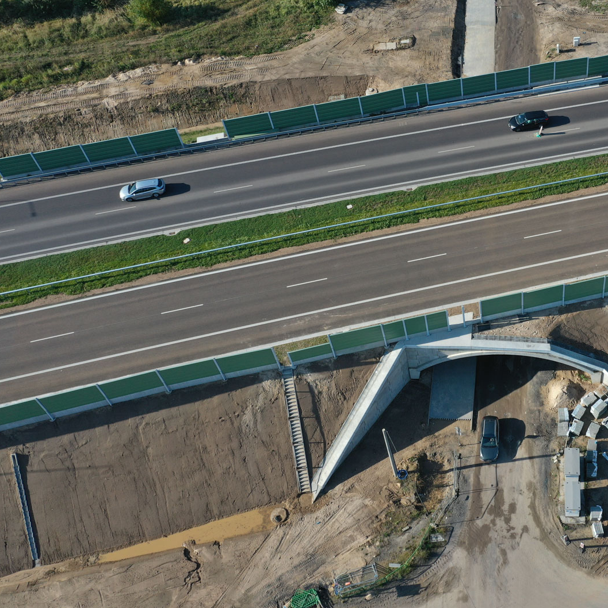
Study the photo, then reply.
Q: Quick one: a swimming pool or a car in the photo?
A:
car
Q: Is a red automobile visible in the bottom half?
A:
No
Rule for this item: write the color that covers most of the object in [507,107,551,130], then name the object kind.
black car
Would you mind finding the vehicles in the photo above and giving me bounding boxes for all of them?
[476,418,502,467]
[119,176,165,202]
[507,107,551,130]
